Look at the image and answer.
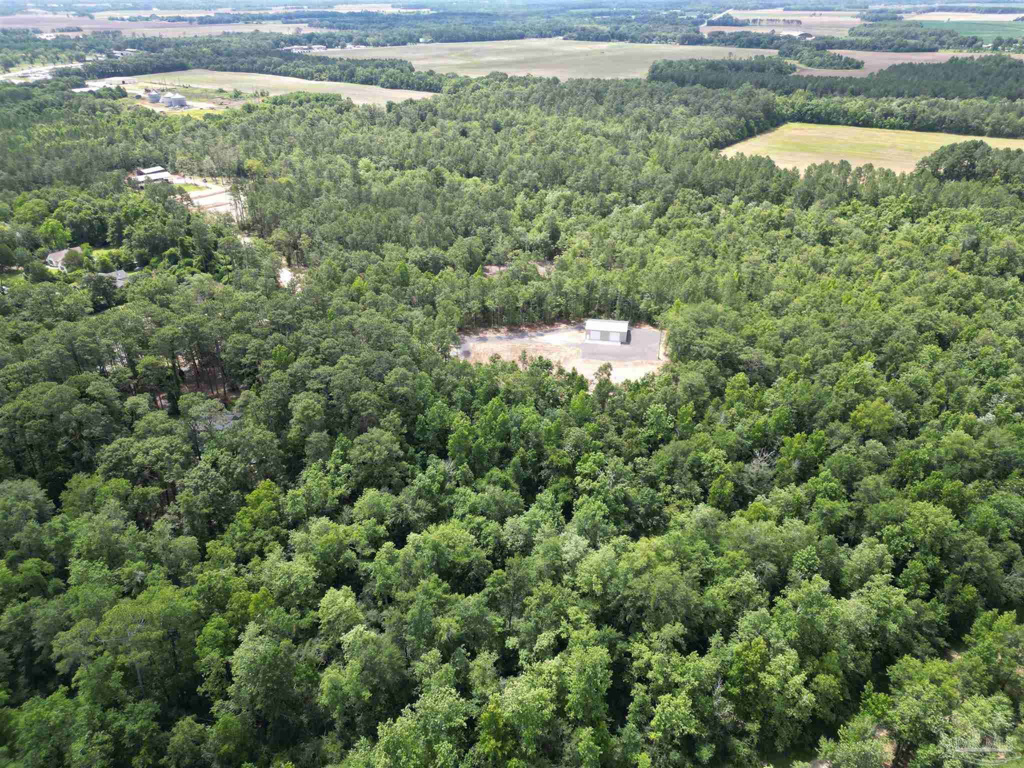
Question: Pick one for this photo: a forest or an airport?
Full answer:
The area seen from above is a forest.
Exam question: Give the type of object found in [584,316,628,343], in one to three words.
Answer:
building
